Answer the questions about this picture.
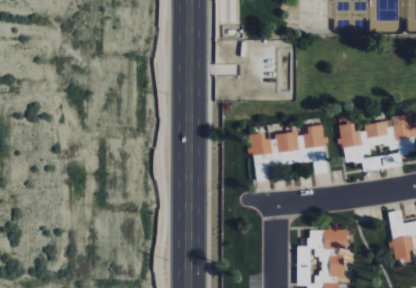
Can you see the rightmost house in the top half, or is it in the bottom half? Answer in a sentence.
Seen from above, the rightmost house lies in the bottom half of the view.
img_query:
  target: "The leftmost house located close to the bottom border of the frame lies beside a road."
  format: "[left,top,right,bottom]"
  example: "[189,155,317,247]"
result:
[297,230,348,288]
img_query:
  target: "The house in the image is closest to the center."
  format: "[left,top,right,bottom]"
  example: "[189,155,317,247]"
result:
[247,124,328,182]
